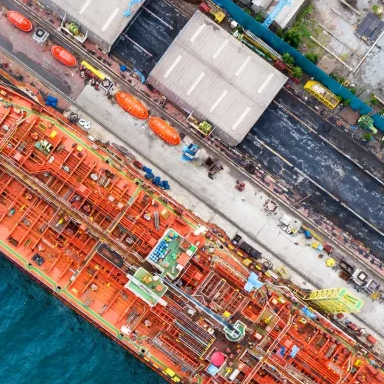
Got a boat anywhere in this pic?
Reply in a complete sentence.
Yes, there is a boat in the image.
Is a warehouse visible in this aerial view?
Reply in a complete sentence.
Yes, the frame does contain a warehouse.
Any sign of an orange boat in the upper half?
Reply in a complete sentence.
Yes, the scene does show an orange boat in the upper half.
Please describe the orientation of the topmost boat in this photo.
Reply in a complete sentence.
In this picture, the topmost boat is oriented diagonally.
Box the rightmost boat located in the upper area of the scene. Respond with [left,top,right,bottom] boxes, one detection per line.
[148,117,181,146]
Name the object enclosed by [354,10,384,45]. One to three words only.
shed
